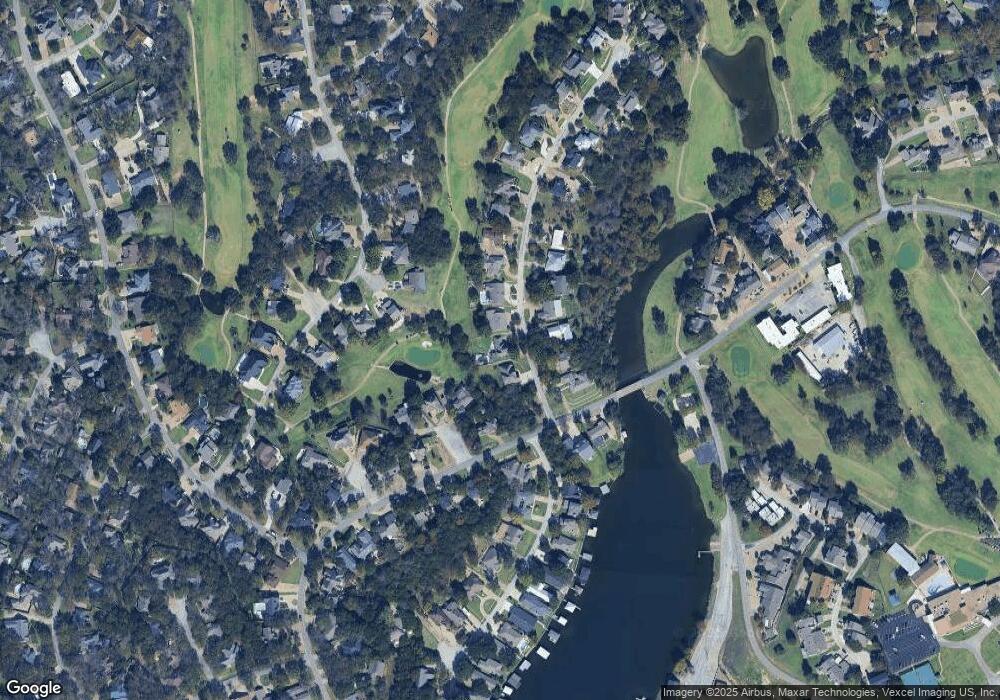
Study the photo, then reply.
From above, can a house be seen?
Yes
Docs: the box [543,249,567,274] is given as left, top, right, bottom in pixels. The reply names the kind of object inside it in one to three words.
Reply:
house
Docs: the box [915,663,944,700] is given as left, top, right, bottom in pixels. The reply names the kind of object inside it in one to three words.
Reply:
tennis court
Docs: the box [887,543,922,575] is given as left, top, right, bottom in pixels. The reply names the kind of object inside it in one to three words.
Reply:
barn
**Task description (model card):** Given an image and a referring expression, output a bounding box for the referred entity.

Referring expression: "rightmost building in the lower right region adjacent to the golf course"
[930,572,1000,638]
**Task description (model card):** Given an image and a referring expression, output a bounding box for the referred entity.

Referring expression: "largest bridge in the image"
[610,369,657,399]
